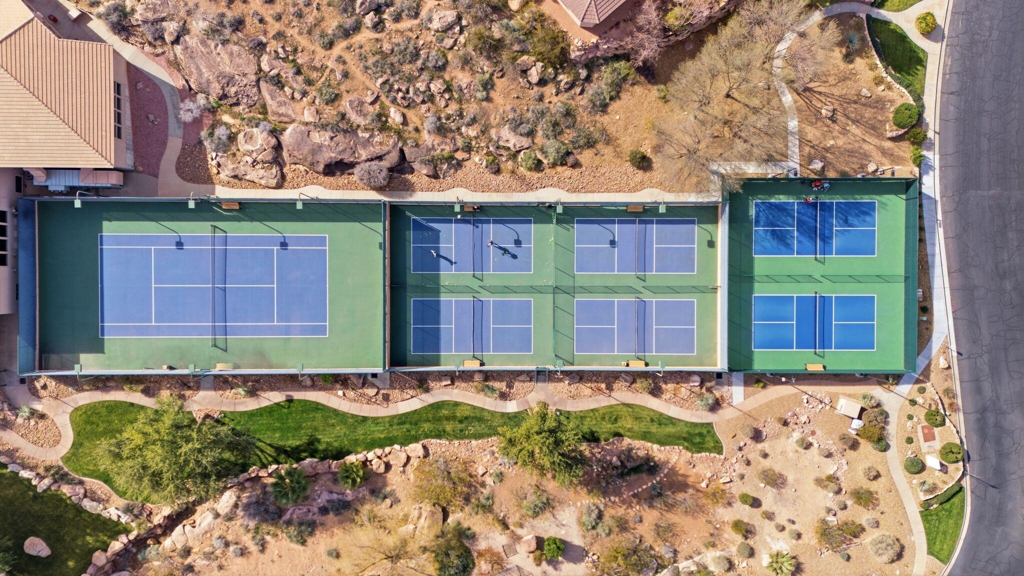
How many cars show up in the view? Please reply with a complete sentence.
I count no cars.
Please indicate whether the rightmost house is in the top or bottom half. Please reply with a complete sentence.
The rightmost house sits in the top half of the picture.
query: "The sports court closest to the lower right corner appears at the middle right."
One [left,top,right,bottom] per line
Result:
[753,295,877,351]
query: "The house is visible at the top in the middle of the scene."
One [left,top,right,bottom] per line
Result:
[553,0,627,30]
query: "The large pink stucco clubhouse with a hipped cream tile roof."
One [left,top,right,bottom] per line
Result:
[0,0,137,169]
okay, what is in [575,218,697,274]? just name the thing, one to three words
sports court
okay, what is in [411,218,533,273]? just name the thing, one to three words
sports court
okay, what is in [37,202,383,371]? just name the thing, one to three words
tennis court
